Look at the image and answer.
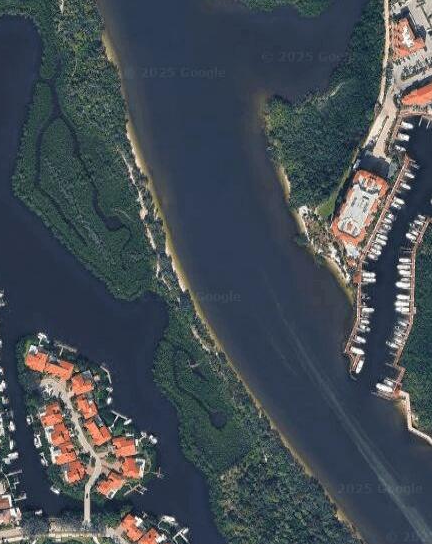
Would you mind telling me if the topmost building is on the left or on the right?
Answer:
right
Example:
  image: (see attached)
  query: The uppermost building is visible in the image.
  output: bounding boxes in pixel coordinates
[391,16,430,58]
